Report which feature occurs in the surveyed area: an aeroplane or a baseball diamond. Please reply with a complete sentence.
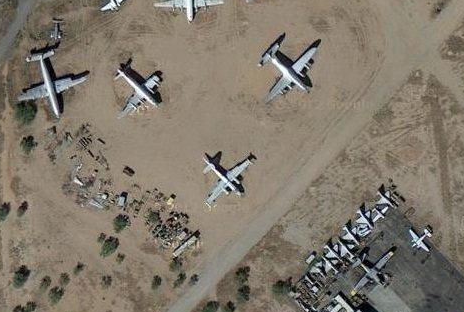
Visible in the photo is an aeroplane.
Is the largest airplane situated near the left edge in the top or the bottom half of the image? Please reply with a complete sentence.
You can find the largest airplane situated near the left edge in the top half.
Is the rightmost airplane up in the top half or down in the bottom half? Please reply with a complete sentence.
It is in the bottom half that the rightmost airplane appears.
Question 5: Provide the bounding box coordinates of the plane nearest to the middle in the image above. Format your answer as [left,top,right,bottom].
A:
[202,157,252,207]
